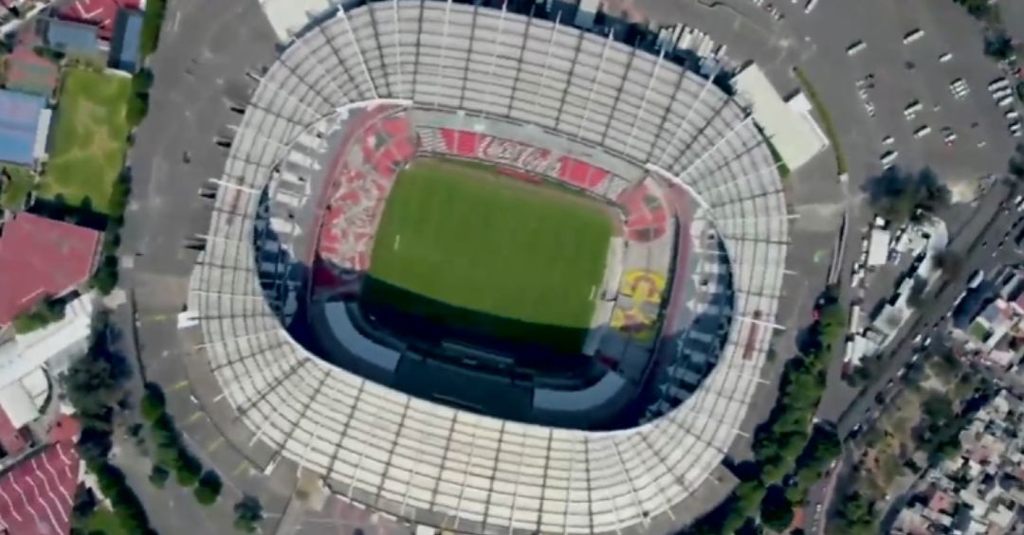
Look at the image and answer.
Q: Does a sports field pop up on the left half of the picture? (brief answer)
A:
Yes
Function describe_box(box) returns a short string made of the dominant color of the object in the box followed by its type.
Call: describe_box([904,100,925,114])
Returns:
white vehicle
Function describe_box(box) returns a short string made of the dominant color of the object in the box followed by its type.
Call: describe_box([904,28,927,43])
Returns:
white vehicle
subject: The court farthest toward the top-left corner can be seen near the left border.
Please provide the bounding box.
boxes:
[7,45,57,95]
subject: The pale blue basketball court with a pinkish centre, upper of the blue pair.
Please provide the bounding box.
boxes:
[0,91,46,130]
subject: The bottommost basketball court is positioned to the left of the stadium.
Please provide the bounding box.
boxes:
[0,126,37,165]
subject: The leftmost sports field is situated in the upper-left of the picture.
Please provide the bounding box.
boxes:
[38,70,132,210]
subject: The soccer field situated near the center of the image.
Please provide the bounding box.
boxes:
[364,159,623,357]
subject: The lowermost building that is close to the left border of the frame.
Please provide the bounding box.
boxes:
[0,438,88,535]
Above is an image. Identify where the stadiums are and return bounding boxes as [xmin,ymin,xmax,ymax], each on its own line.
[175,0,801,535]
